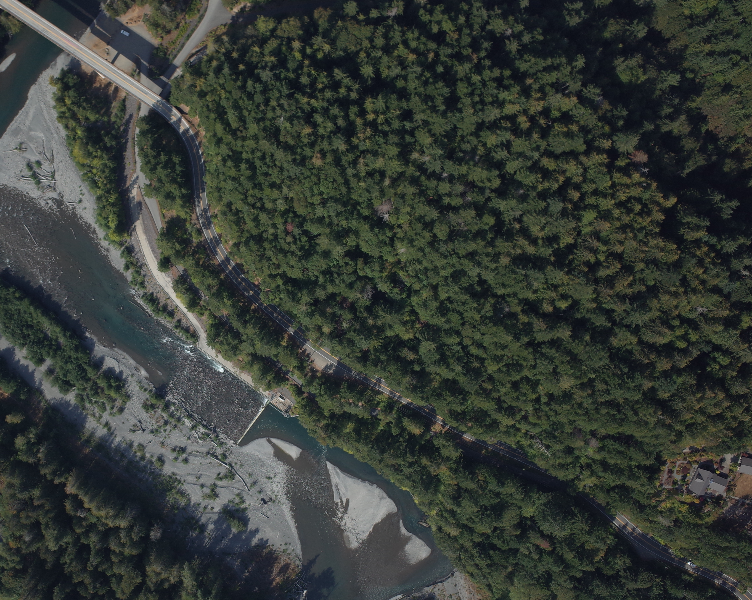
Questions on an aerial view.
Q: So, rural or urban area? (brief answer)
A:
rural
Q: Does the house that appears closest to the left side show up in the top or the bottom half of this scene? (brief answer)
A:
bottom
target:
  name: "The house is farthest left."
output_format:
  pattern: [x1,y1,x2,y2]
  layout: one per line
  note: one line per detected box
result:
[687,468,728,496]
